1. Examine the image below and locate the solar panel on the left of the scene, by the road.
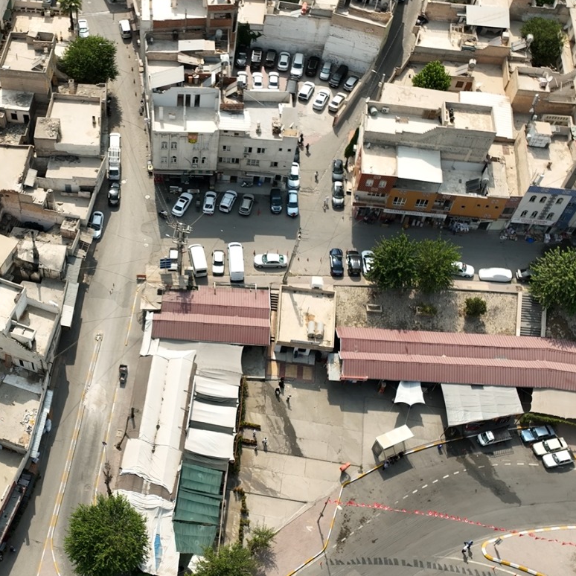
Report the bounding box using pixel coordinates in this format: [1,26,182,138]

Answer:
[157,256,173,272]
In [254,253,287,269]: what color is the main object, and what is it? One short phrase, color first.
white car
